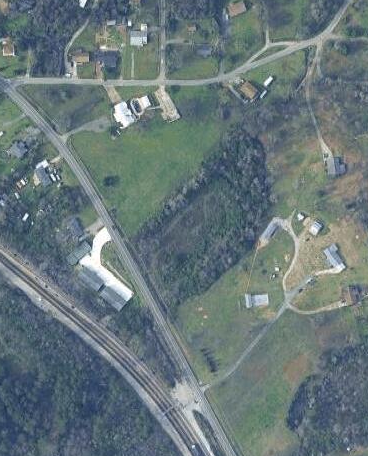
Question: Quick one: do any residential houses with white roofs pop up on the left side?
Yes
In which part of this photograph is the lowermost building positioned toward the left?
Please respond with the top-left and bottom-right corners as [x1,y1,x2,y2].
[99,284,128,312]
